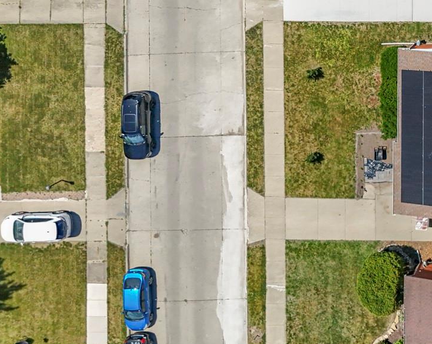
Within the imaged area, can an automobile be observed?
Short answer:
Yes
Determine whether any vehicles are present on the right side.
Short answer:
No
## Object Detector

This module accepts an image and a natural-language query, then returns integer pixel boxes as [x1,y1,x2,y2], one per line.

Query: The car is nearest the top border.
[118,88,158,158]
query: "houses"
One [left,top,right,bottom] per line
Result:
[382,42,432,231]
[404,251,432,344]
